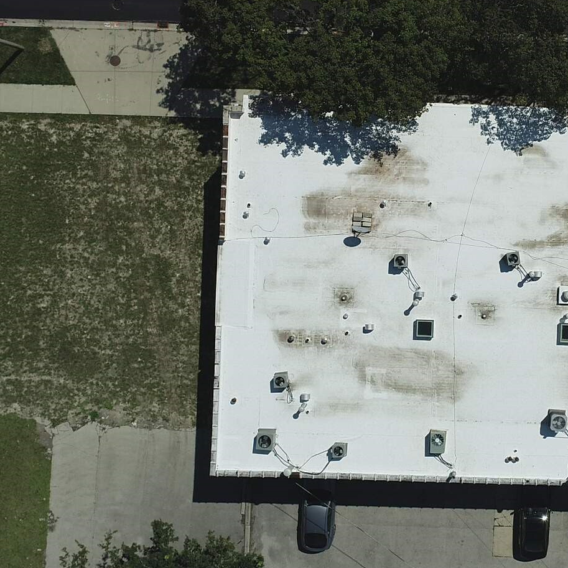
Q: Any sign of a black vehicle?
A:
Yes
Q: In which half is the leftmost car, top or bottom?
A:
bottom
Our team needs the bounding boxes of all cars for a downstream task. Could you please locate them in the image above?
[300,478,338,554]
[513,485,553,560]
